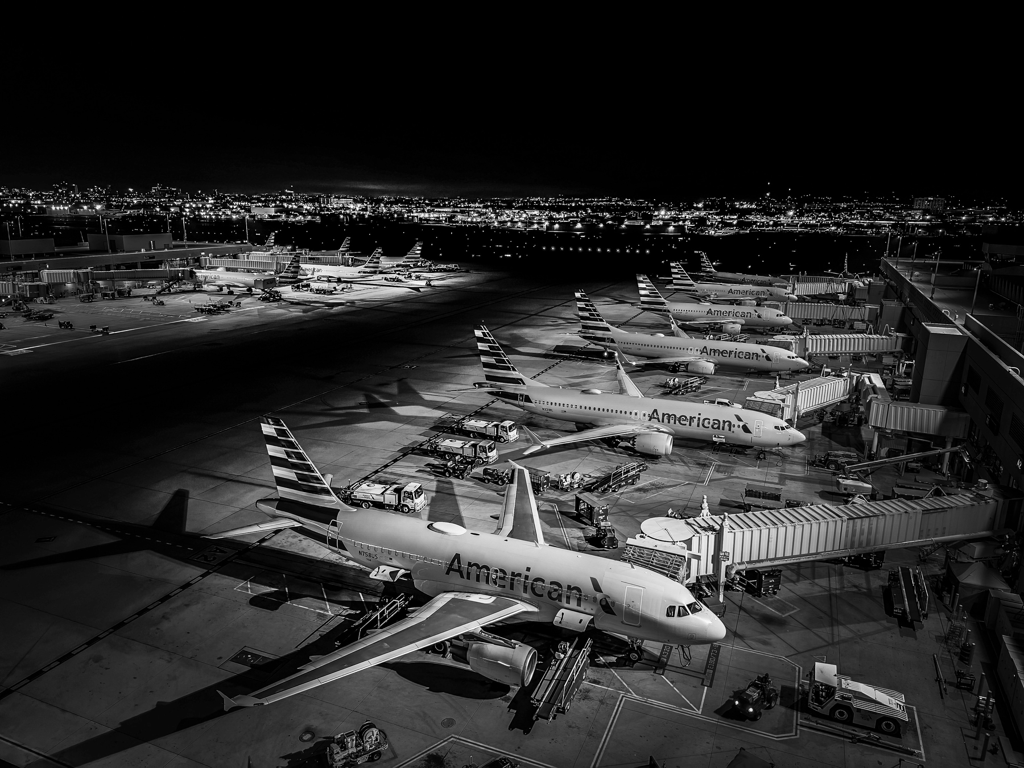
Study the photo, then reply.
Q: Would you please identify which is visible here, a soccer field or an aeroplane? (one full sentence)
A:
The image shows an aeroplane.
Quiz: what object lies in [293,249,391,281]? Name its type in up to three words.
airplane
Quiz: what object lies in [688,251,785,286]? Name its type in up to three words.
airplane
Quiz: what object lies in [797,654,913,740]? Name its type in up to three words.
work vehicle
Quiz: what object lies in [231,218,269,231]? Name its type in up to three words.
building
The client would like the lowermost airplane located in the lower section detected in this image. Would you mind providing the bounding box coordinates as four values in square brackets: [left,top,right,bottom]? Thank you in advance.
[200,415,725,712]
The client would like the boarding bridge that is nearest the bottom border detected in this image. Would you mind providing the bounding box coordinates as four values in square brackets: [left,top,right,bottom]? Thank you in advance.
[622,484,1024,620]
